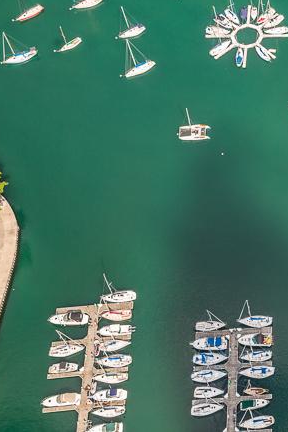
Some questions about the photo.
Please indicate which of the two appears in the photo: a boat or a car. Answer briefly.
boat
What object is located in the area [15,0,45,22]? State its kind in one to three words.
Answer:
boat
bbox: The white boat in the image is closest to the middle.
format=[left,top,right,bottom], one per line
[99,273,138,302]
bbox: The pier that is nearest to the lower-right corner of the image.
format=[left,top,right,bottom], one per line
[193,326,273,432]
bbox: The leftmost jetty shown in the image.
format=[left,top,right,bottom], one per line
[43,301,134,432]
